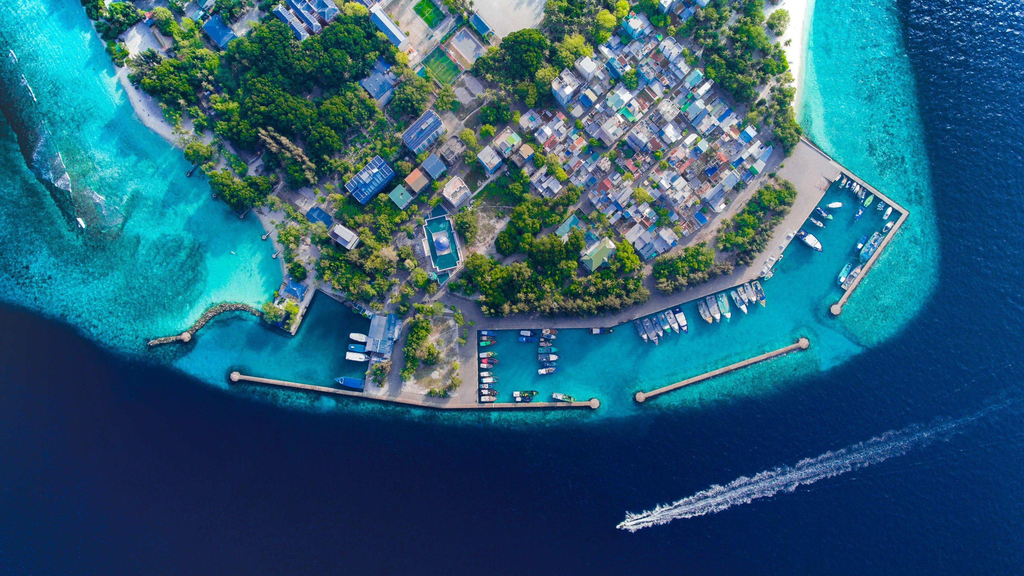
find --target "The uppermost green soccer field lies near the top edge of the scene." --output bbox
[409,0,449,33]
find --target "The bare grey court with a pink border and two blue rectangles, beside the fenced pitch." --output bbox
[450,27,487,64]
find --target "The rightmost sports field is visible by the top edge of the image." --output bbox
[473,0,545,39]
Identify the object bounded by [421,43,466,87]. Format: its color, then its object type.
green soccer field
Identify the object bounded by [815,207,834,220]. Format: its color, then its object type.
blue boat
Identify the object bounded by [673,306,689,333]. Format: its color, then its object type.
white boat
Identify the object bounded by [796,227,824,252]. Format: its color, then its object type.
white boat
